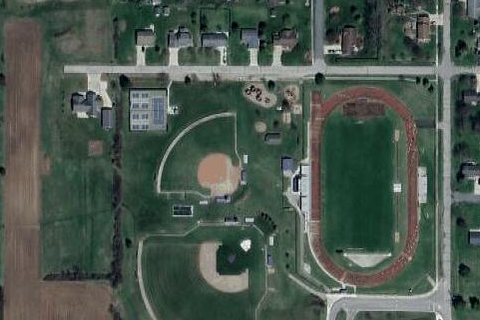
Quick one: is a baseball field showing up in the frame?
Yes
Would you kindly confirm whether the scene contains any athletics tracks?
Yes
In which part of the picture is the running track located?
right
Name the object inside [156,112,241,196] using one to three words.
baseball field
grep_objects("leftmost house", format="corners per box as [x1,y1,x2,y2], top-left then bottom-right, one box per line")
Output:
[72,91,100,113]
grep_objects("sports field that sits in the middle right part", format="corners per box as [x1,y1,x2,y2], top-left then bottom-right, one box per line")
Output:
[323,119,407,251]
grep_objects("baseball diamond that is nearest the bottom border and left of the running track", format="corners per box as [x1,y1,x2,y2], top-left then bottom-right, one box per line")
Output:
[137,225,266,320]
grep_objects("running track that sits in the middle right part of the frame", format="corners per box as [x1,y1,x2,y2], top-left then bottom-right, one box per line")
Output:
[310,86,418,287]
